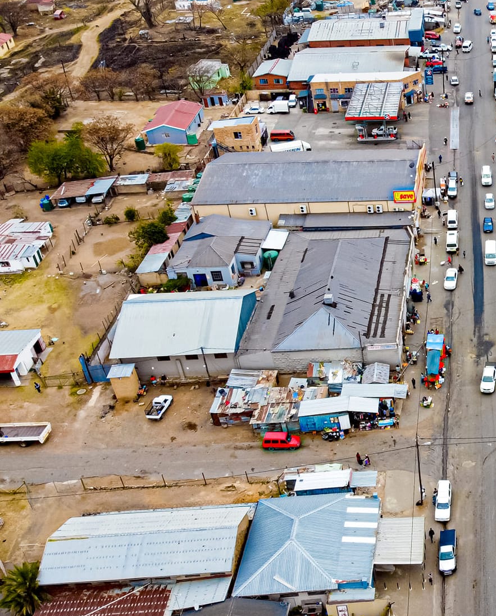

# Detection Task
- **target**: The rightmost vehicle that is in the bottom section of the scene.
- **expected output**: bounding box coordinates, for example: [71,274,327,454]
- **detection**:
[480,363,496,394]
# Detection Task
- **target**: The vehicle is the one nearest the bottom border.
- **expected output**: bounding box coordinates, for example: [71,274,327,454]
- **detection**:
[436,531,458,575]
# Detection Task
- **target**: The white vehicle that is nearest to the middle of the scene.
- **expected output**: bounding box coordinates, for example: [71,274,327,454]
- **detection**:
[142,394,174,424]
